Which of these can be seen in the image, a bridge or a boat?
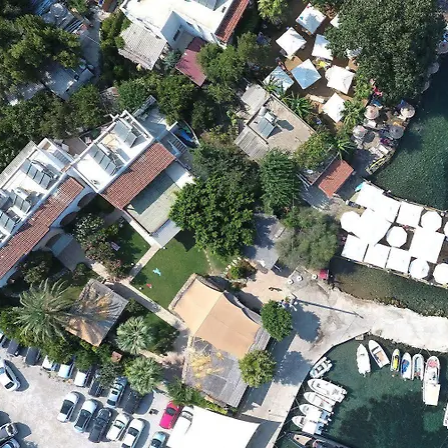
boat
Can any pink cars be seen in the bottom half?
Yes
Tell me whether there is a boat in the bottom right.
Yes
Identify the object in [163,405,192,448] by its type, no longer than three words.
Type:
truck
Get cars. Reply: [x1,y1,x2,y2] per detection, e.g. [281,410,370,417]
[108,411,131,443]
[159,401,181,430]
[120,382,146,418]
[0,358,21,390]
[41,350,62,374]
[122,416,146,448]
[24,332,48,367]
[105,373,130,408]
[5,334,27,358]
[73,359,95,388]
[57,354,77,382]
[148,429,168,448]
[0,422,21,441]
[58,388,82,422]
[0,319,12,343]
[87,363,112,397]
[76,397,100,432]
[90,406,114,442]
